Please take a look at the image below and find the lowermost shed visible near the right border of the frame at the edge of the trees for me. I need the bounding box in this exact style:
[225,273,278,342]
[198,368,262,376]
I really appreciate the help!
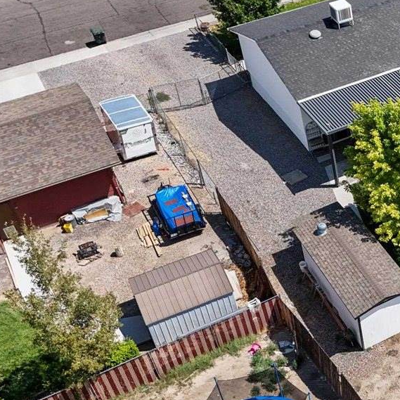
[288,205,400,351]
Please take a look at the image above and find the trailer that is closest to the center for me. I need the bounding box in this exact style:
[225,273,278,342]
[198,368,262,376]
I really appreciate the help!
[148,179,215,244]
